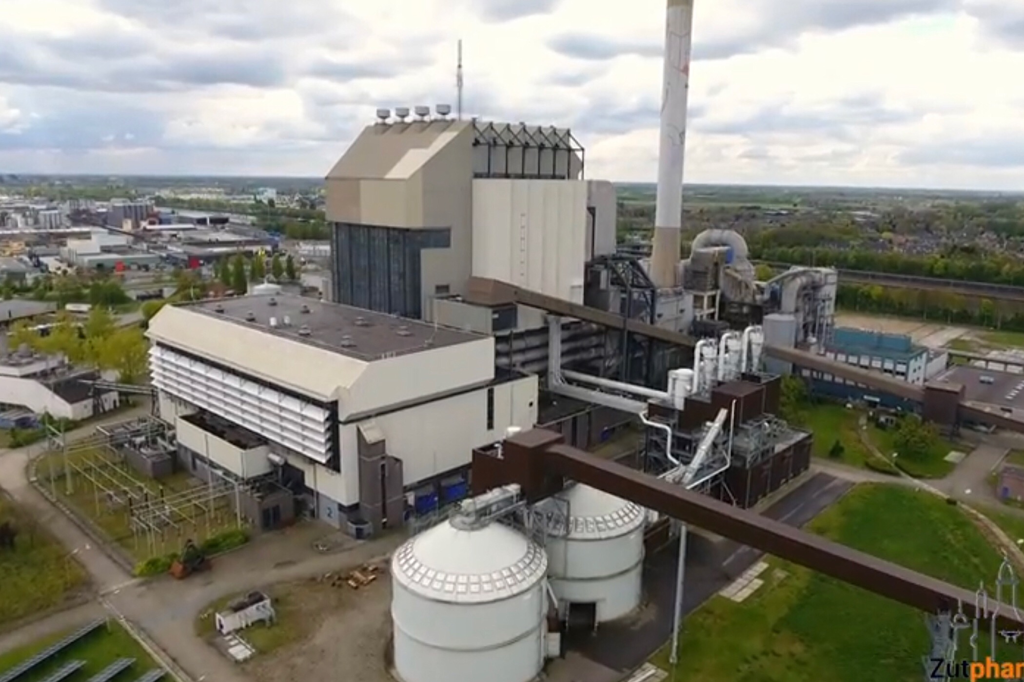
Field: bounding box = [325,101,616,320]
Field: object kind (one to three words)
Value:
building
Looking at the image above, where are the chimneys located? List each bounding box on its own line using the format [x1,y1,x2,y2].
[651,0,695,289]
